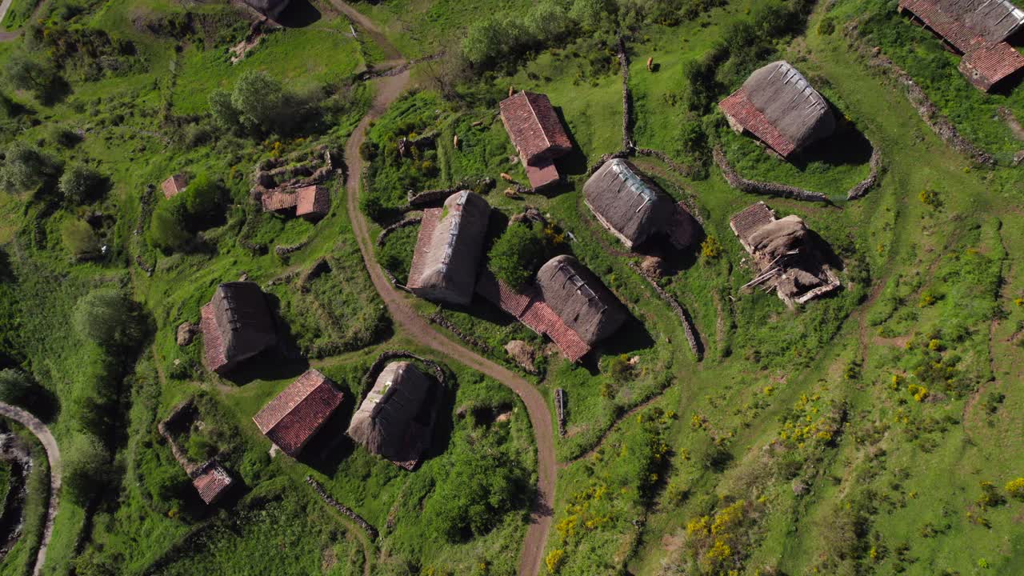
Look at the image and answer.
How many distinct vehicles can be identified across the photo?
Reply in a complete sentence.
The count of vehicles is 0.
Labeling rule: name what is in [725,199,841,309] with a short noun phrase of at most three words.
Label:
barn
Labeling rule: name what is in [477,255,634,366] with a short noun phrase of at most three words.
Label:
barn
